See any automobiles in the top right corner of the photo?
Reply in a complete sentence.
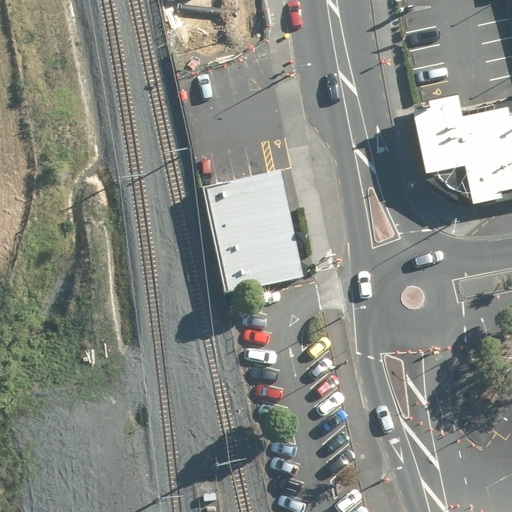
Yes, an automobile is visible in the top right corner of the photo.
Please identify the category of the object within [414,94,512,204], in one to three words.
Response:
building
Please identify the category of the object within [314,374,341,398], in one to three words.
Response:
car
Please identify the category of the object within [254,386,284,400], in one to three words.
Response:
car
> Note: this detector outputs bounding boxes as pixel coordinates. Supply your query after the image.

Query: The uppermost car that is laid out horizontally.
[406,30,440,46]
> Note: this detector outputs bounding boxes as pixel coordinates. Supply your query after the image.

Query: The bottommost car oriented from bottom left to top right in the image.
[333,488,364,512]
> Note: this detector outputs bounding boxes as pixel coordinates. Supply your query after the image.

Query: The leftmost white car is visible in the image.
[197,73,213,100]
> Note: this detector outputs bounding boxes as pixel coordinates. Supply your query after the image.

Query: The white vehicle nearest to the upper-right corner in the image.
[416,68,449,84]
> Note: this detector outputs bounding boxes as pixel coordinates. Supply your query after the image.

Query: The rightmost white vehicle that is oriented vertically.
[377,404,394,435]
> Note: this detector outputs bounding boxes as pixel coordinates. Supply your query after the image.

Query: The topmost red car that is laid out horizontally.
[242,330,271,344]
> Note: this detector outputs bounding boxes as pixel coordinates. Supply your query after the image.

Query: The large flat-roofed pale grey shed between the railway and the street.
[204,171,310,294]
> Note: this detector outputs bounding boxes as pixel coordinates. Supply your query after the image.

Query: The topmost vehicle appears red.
[287,0,302,28]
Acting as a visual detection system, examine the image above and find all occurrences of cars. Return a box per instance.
[277,494,308,512]
[197,73,213,100]
[254,386,284,400]
[377,404,394,435]
[257,404,285,417]
[333,488,364,512]
[270,458,300,476]
[242,330,271,344]
[200,159,214,184]
[406,30,440,46]
[358,270,372,300]
[316,391,346,417]
[308,356,334,380]
[249,368,278,383]
[318,409,348,435]
[326,73,340,102]
[416,68,449,84]
[270,443,298,457]
[354,504,370,512]
[314,374,341,398]
[327,448,356,476]
[414,250,445,266]
[244,348,278,365]
[264,291,282,305]
[324,428,350,454]
[287,0,302,28]
[306,336,332,360]
[242,315,268,329]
